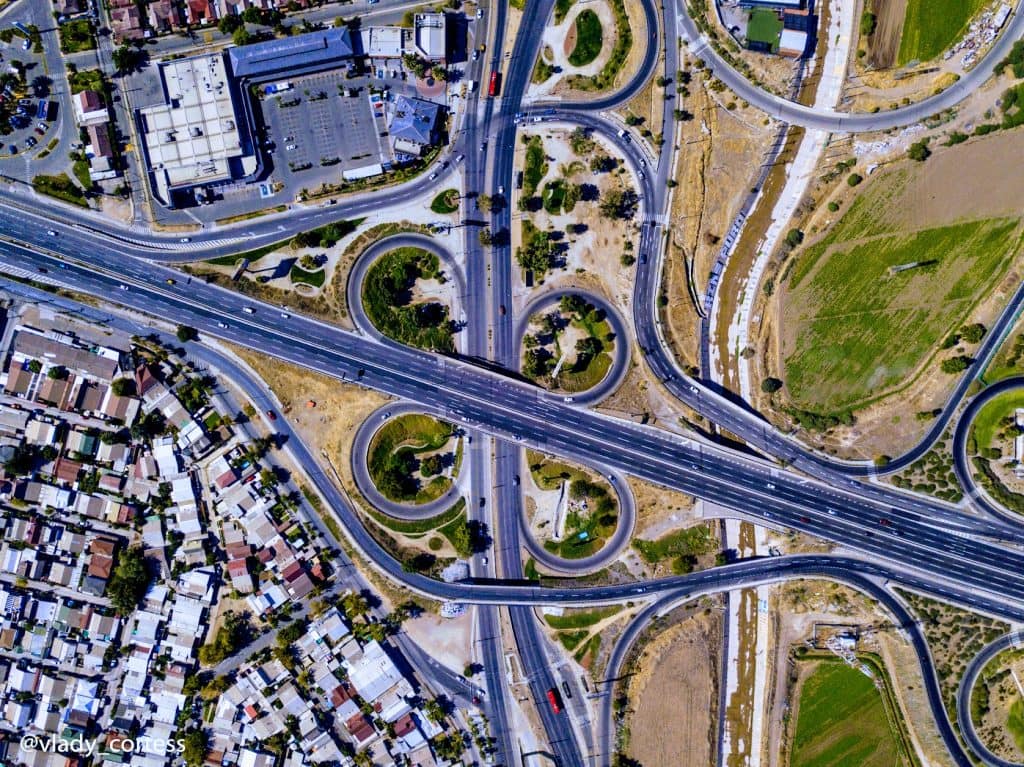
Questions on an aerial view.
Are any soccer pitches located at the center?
No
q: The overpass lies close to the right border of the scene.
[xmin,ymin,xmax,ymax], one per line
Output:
[674,0,1024,137]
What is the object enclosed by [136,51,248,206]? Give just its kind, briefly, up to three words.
building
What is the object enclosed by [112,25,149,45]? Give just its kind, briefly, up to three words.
house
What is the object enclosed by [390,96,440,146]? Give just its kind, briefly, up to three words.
building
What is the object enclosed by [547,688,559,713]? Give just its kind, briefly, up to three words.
vehicle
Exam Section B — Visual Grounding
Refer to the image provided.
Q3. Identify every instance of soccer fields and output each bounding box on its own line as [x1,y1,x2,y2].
[746,9,782,52]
